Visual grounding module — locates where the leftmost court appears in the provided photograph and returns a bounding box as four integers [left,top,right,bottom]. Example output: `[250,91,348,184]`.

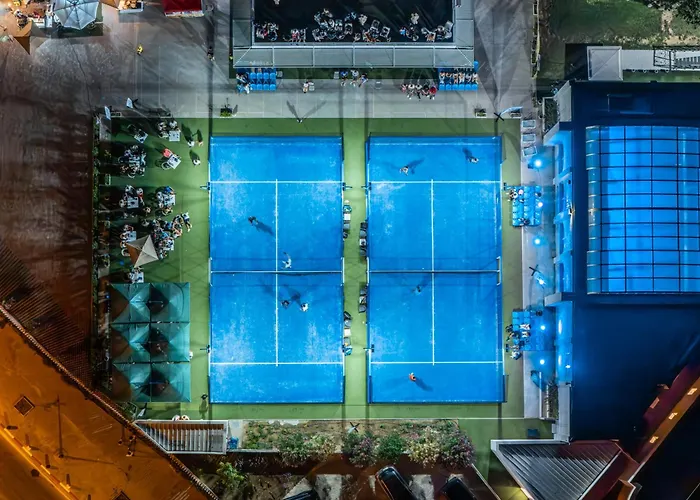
[204,133,344,406]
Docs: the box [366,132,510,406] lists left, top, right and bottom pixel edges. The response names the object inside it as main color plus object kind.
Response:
blue sports court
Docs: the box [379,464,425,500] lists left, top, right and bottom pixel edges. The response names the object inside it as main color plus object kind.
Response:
black car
